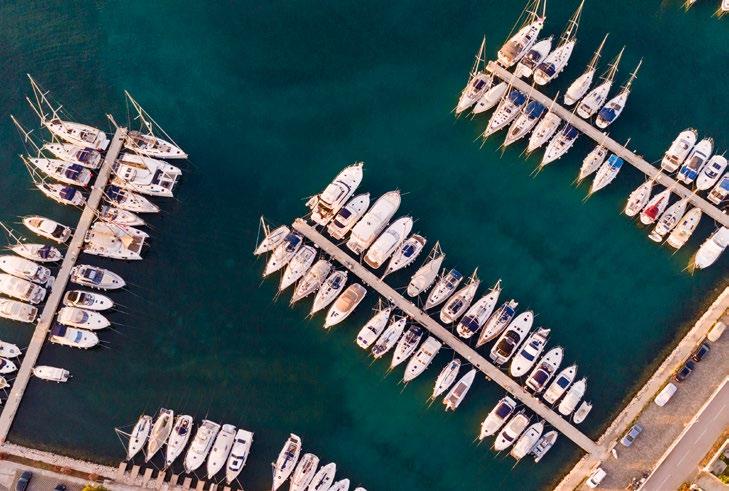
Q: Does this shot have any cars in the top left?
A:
No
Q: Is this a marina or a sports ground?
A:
marina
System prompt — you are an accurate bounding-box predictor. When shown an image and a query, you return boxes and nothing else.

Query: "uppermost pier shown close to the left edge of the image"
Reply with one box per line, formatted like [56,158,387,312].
[0,127,129,443]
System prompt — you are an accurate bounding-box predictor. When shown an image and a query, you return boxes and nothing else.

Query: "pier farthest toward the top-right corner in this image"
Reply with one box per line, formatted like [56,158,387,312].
[485,62,729,226]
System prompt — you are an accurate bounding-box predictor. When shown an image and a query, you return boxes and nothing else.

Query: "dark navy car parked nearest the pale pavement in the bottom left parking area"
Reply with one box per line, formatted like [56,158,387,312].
[12,468,34,491]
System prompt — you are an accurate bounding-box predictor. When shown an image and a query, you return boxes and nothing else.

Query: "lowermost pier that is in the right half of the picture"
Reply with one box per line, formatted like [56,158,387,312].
[292,218,599,455]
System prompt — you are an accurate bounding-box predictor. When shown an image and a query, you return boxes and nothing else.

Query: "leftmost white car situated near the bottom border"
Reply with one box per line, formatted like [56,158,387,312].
[586,465,607,490]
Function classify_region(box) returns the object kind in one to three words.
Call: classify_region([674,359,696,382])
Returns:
car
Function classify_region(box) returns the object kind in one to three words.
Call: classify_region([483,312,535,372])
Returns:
boat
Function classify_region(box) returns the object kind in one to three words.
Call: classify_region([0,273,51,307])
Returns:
boat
